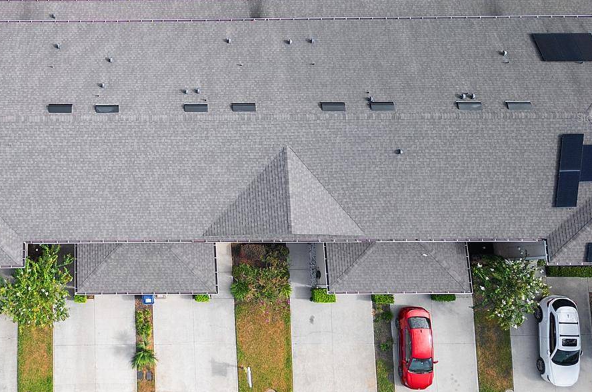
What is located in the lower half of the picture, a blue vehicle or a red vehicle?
red vehicle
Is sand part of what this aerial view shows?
No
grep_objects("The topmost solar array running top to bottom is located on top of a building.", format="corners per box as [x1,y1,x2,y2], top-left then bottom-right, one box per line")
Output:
[554,136,592,209]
